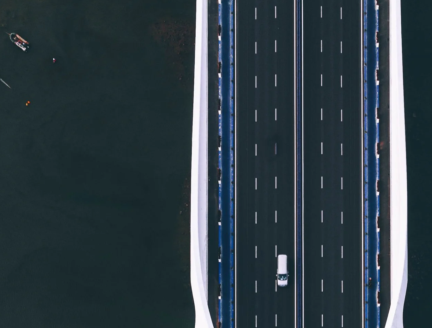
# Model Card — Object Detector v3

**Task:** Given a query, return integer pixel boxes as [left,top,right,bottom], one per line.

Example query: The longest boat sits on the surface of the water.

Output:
[9,31,30,55]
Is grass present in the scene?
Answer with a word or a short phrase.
No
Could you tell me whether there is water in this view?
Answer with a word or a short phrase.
Yes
